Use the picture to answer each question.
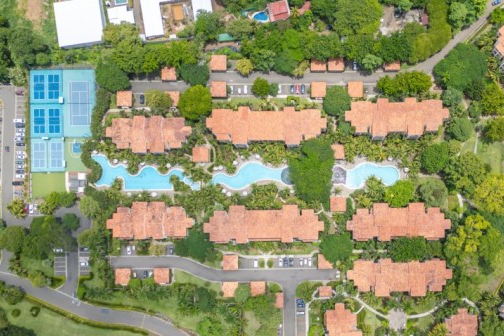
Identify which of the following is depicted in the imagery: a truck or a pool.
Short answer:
pool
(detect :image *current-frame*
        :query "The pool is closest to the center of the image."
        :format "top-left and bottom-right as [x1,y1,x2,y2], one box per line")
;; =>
[213,161,296,190]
